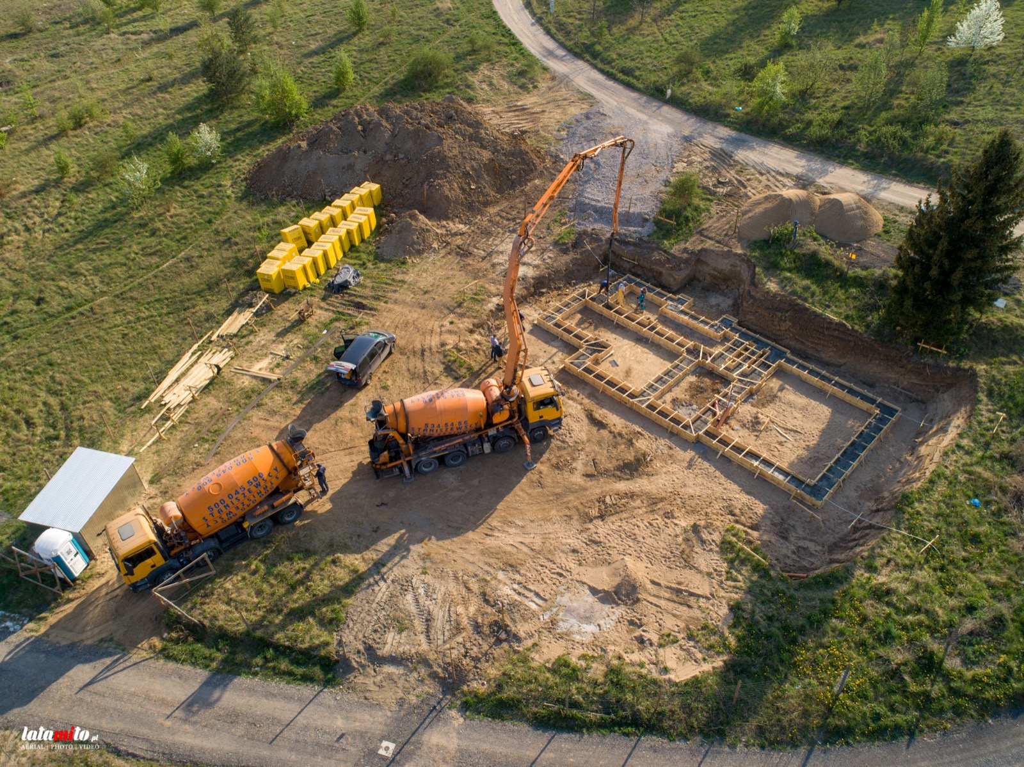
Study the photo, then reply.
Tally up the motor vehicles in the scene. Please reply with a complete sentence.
The number of motor vehicles here is 3.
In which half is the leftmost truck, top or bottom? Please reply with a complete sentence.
Seen from above, the leftmost truck lies in the bottom half of the view.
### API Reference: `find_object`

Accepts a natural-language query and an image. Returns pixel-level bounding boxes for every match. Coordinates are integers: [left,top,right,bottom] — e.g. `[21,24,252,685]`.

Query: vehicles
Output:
[358,136,635,485]
[102,422,327,597]
[325,330,395,390]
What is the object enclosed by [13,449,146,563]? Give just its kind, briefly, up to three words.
shed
